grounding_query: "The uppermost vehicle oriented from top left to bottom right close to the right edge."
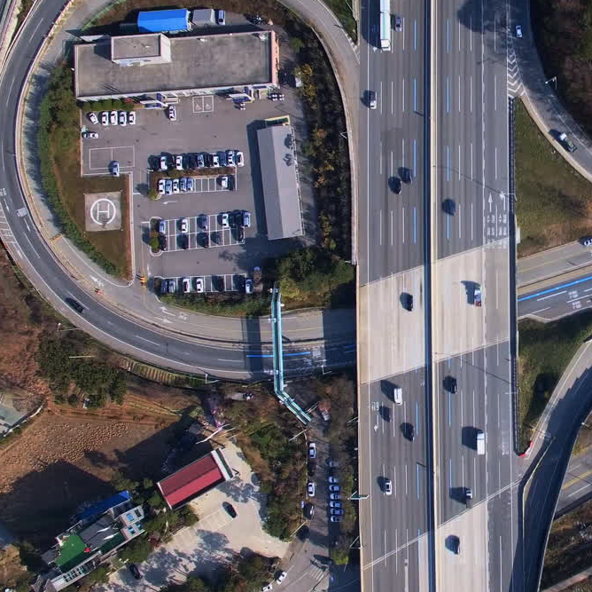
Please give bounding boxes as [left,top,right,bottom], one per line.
[560,133,573,150]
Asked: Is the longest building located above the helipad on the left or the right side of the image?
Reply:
left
